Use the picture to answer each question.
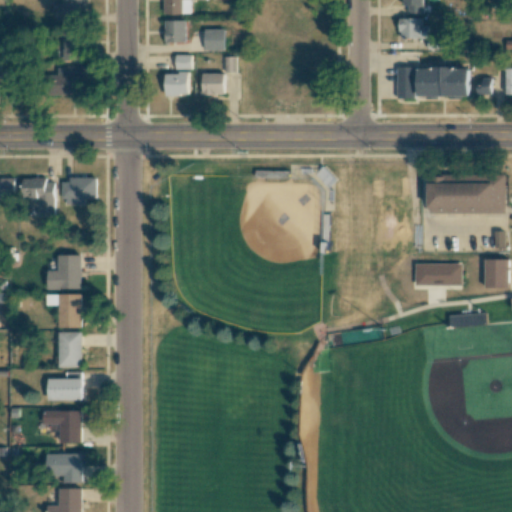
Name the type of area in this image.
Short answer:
sports ground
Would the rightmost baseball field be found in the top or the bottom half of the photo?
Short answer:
bottom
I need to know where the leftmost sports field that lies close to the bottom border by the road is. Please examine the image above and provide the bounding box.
[156,326,311,512]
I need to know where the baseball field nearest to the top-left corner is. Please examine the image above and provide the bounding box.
[170,176,322,334]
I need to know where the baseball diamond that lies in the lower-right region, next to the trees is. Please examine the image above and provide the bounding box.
[298,320,512,512]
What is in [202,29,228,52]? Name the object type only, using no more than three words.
building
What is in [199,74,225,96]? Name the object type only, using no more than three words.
house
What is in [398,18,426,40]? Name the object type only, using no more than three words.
house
